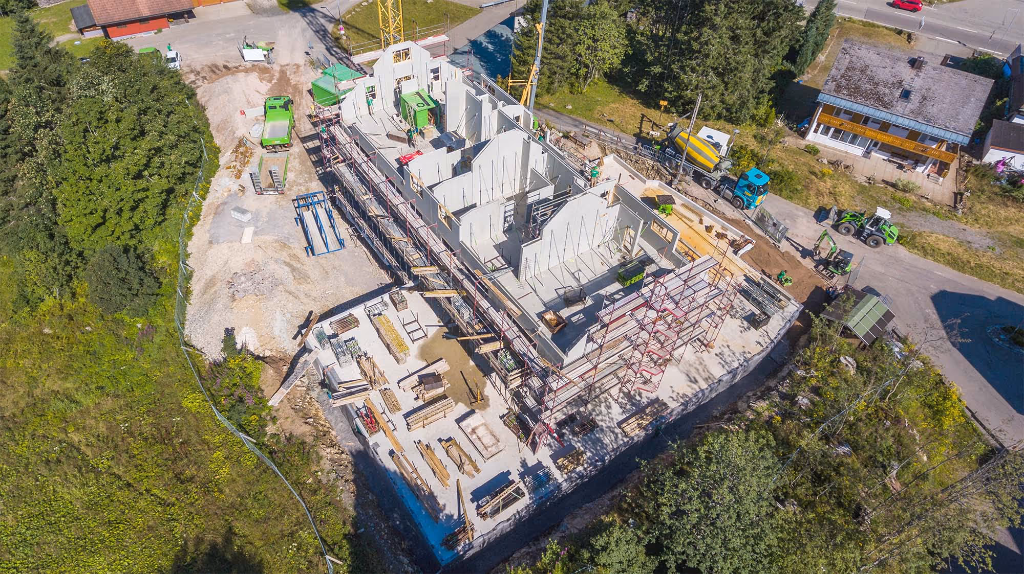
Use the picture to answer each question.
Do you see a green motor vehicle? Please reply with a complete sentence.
Yes, the picture does show a green motor vehicle.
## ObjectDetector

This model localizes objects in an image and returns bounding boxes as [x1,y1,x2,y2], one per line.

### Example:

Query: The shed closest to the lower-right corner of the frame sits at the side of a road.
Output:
[810,287,897,351]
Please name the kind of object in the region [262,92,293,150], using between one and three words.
truck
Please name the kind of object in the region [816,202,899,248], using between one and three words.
work vehicle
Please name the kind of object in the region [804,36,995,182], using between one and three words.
house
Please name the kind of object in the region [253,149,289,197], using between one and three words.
trailer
